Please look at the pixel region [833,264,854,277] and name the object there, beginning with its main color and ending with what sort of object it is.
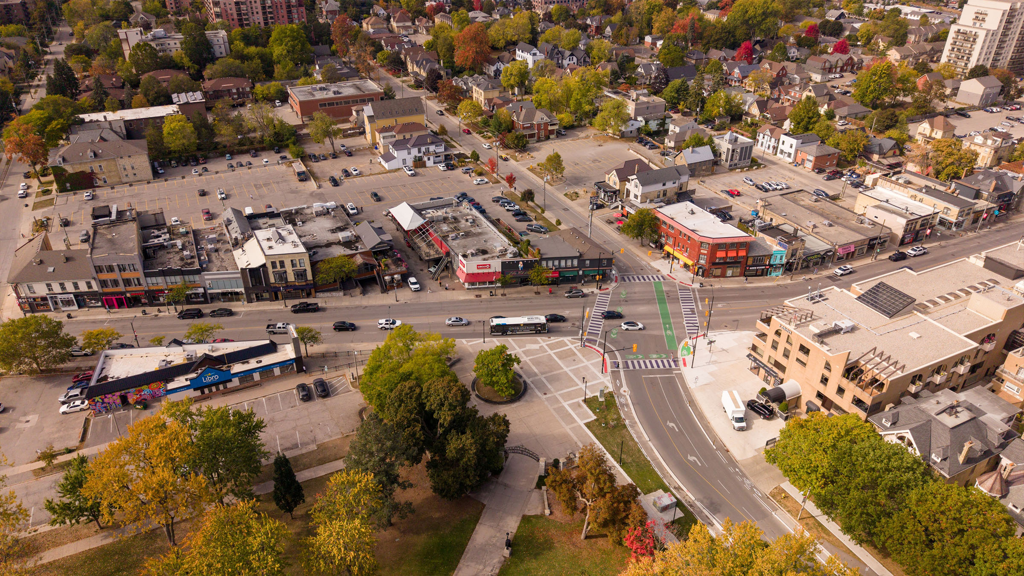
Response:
white vehicle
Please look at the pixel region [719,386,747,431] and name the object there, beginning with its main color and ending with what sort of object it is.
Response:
white truck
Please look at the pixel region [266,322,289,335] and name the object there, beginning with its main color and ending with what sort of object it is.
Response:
gray vehicle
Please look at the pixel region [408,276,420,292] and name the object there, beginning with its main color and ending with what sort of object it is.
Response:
white vehicle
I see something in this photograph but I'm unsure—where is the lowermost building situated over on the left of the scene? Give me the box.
[86,325,306,417]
